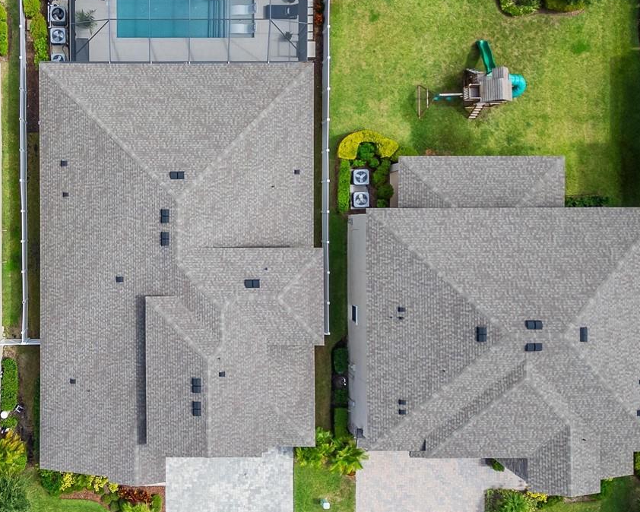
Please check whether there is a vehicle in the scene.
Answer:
No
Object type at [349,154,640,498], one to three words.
house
